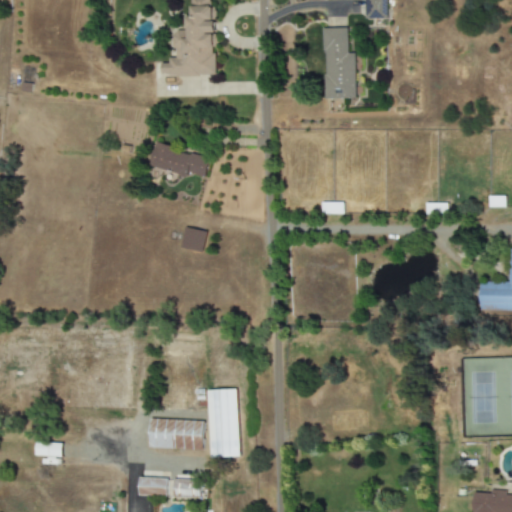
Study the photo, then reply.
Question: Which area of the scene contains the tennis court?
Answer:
bottom right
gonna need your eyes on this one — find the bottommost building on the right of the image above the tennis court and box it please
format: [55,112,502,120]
[480,232,512,310]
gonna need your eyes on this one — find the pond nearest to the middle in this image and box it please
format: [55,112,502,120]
[376,252,438,306]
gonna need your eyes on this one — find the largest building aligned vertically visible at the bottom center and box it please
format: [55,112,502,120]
[208,388,240,458]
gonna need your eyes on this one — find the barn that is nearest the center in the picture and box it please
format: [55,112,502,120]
[182,226,208,251]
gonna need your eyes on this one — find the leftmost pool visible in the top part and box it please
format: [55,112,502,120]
[135,20,154,46]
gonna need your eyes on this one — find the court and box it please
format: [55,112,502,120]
[462,356,512,438]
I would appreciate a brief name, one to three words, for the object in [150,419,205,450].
barn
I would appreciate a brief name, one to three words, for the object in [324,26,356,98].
house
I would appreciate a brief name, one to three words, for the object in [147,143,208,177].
house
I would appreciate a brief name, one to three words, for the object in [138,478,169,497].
building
